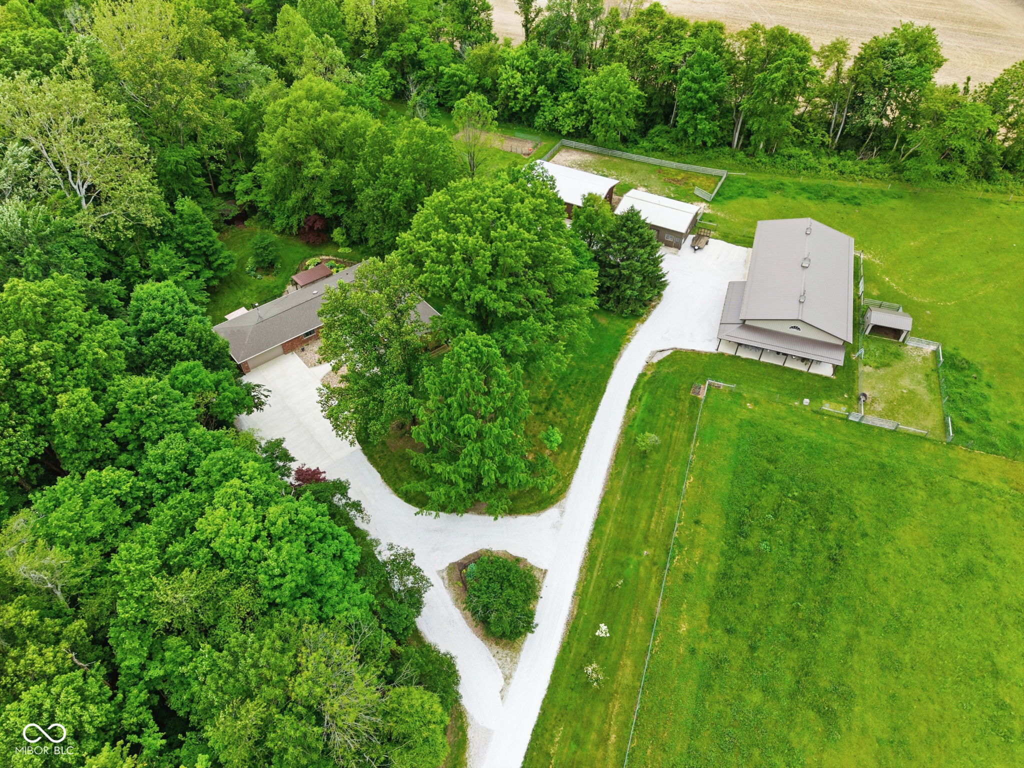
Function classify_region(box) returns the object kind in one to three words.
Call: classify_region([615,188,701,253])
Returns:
building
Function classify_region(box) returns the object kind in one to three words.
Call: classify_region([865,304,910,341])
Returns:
shed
